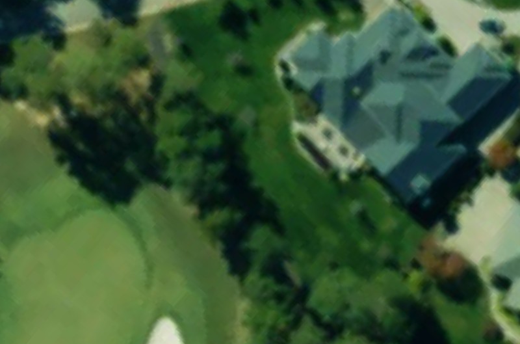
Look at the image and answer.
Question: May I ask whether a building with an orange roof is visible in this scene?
No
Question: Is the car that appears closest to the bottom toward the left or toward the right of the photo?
right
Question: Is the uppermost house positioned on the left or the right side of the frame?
right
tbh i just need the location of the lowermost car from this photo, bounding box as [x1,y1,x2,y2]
[476,15,507,37]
